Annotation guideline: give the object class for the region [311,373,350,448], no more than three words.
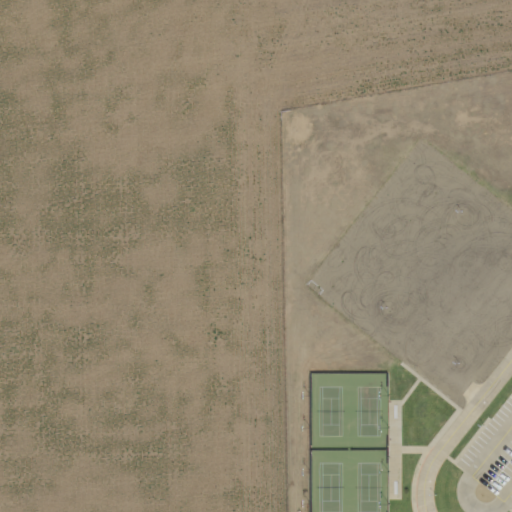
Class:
tennis court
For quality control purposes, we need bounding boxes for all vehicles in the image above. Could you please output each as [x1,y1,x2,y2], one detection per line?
[487,470,497,478]
[488,484,500,496]
[495,461,504,469]
[478,478,488,487]
[498,456,508,464]
[503,446,512,456]
[490,464,500,473]
[492,480,502,490]
[482,474,492,482]
[500,472,510,482]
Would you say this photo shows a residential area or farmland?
farmland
